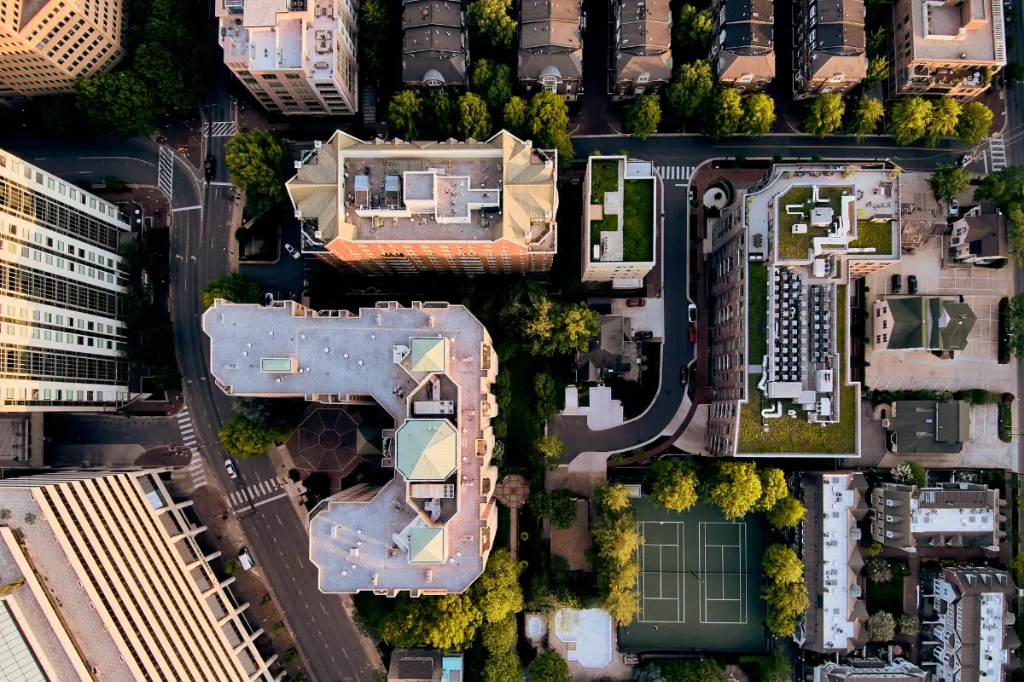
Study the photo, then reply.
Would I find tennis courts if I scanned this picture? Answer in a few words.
Yes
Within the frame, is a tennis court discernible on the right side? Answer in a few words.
Yes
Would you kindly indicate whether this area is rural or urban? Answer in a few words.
urban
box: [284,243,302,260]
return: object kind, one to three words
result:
car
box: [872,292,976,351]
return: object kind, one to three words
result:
building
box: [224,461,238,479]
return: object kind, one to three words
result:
car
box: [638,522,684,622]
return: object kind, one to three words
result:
tennis court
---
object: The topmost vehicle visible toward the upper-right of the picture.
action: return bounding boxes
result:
[952,152,971,164]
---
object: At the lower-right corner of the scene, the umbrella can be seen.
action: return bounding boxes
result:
[889,643,904,658]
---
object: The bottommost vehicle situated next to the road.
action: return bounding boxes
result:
[239,546,253,571]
